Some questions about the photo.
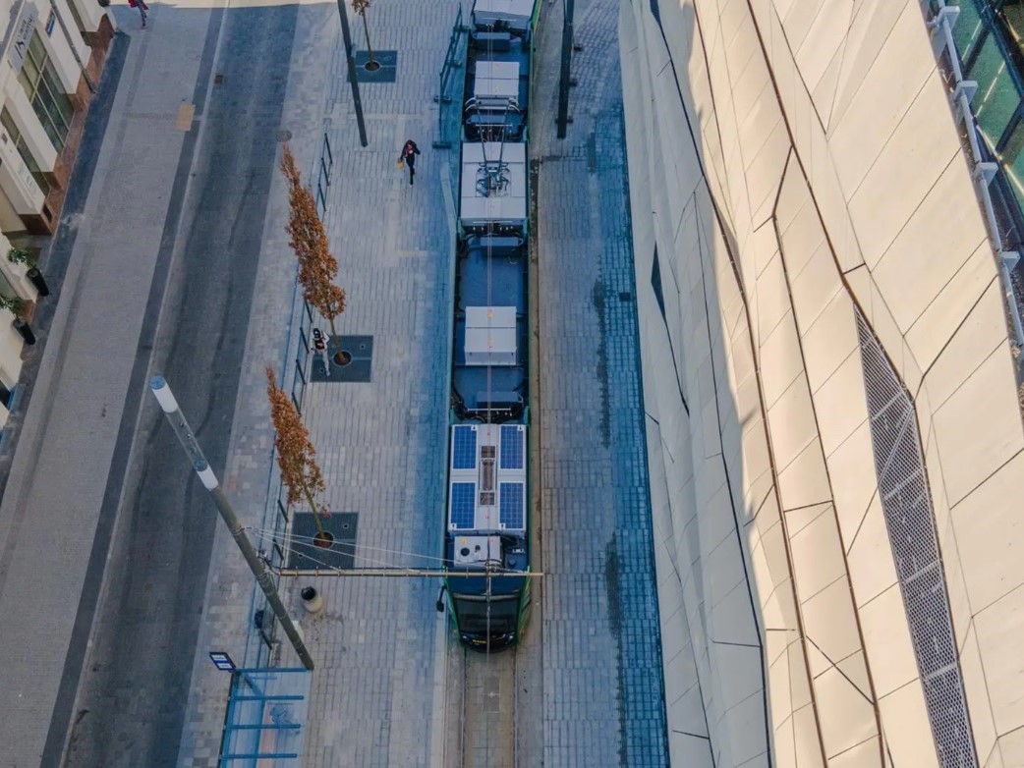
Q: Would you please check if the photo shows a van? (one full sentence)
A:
No, this view has no van in it.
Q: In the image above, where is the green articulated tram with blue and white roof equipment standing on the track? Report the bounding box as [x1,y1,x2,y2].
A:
[436,0,541,653]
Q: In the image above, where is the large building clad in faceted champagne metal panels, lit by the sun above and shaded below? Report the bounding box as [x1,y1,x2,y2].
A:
[618,0,1024,768]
